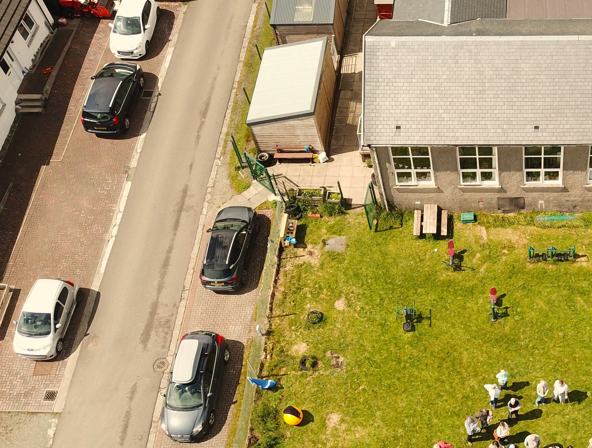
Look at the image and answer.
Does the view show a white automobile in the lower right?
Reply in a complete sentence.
No, no white automobile is visible in the lower right.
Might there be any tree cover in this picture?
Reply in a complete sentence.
No, there is no tree cover in the image.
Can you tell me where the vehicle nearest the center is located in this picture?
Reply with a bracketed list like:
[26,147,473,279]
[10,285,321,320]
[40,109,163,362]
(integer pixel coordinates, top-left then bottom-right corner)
[195,204,262,294]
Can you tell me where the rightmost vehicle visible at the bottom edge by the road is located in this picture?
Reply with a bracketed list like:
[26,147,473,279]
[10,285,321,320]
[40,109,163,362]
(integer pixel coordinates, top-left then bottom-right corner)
[156,330,232,441]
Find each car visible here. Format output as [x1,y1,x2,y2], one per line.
[195,204,262,294]
[107,0,162,57]
[11,277,86,361]
[156,330,232,441]
[82,63,146,136]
